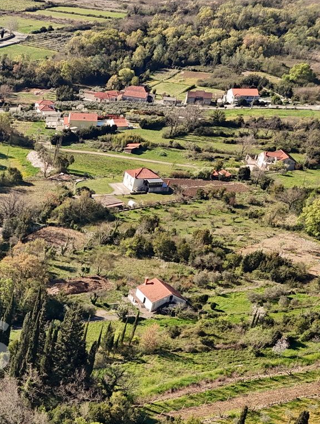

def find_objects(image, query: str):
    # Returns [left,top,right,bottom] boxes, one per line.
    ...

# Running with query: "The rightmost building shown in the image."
[254,148,301,170]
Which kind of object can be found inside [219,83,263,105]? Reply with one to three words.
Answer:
house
